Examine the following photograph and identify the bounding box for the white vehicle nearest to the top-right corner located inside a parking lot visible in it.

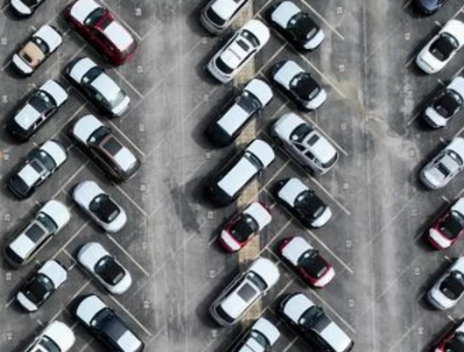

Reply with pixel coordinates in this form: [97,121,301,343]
[416,22,464,72]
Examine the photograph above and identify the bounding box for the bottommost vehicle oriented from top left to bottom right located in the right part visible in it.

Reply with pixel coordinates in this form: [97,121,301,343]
[279,294,350,352]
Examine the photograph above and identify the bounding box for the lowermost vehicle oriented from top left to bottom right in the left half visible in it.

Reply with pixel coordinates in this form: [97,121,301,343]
[76,296,146,352]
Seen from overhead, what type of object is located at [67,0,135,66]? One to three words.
car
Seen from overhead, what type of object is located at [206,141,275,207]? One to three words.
car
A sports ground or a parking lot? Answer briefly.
parking lot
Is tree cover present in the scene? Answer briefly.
No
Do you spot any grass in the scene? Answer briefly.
No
